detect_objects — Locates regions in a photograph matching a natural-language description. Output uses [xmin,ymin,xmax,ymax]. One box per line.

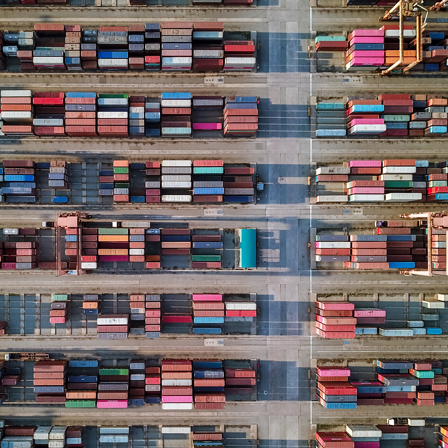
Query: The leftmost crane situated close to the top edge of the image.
[372,0,428,77]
